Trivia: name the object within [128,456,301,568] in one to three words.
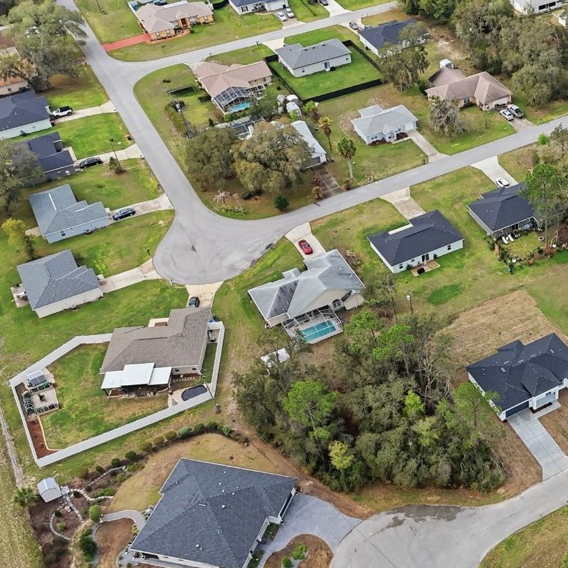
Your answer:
house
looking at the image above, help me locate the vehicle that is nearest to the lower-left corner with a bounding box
[187,293,201,308]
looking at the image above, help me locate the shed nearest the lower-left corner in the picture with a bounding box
[28,473,64,506]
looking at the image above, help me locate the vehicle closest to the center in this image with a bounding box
[297,238,315,254]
